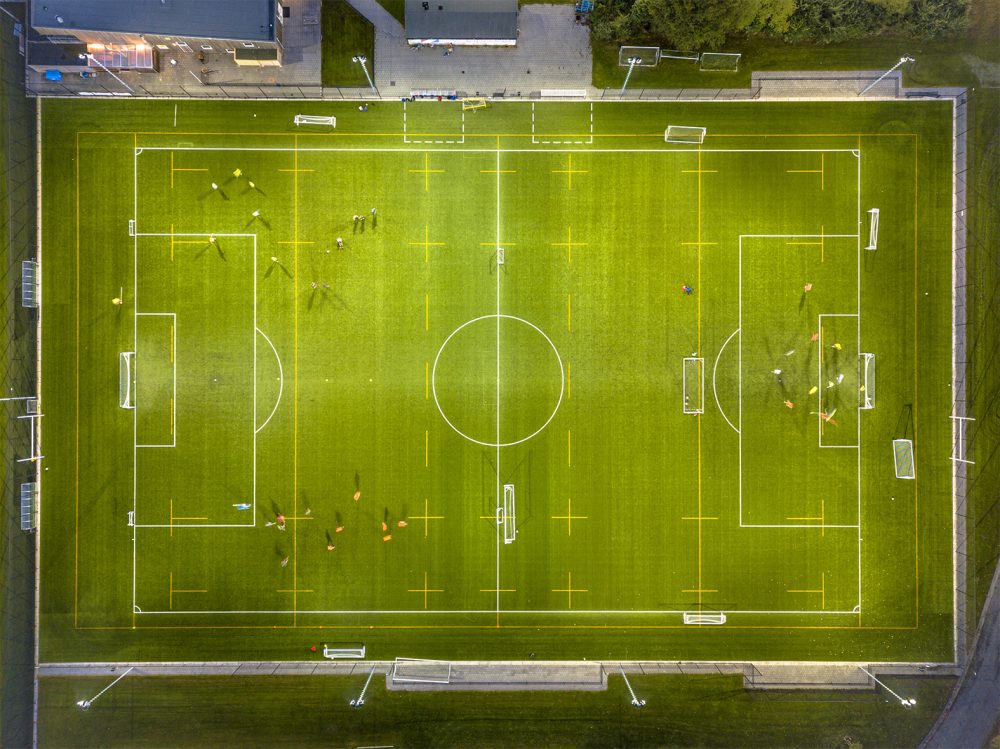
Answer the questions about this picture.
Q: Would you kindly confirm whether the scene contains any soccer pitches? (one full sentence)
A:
Yes, the image includes a soccer pitch.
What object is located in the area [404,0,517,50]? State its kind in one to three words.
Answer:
building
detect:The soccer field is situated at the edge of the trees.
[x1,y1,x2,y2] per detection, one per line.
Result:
[39,99,953,662]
